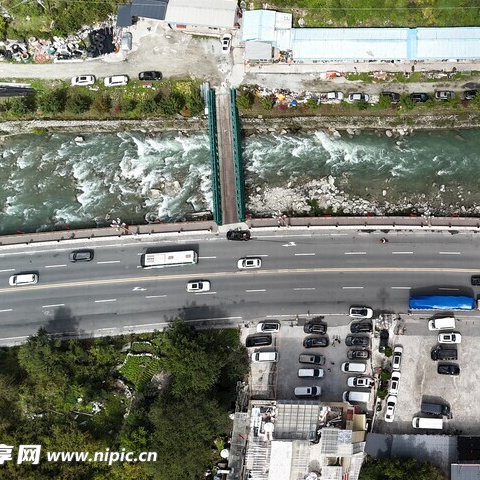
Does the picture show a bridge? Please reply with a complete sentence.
Yes, the image includes a bridge.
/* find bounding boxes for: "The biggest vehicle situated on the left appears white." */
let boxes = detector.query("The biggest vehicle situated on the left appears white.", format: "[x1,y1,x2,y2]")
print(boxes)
[138,249,201,267]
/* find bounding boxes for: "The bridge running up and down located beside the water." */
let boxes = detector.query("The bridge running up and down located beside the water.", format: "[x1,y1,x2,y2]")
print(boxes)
[208,77,250,228]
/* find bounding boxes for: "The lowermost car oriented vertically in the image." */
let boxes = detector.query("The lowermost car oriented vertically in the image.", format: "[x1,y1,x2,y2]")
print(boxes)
[384,395,398,423]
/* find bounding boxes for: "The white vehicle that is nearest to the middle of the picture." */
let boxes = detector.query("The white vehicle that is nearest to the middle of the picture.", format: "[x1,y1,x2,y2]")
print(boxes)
[237,257,262,269]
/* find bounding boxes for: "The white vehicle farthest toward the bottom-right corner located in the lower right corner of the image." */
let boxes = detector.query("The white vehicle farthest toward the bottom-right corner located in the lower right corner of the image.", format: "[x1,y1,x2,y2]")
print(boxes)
[413,417,443,430]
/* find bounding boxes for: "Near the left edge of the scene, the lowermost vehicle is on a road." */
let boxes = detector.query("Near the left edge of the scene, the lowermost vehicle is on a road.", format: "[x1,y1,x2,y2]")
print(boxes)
[10,272,38,285]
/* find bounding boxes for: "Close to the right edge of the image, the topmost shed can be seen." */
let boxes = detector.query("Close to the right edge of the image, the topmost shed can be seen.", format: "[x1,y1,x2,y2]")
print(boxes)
[292,27,480,66]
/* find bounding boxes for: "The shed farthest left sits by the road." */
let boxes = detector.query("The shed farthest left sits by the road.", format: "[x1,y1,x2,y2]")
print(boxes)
[117,3,135,31]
